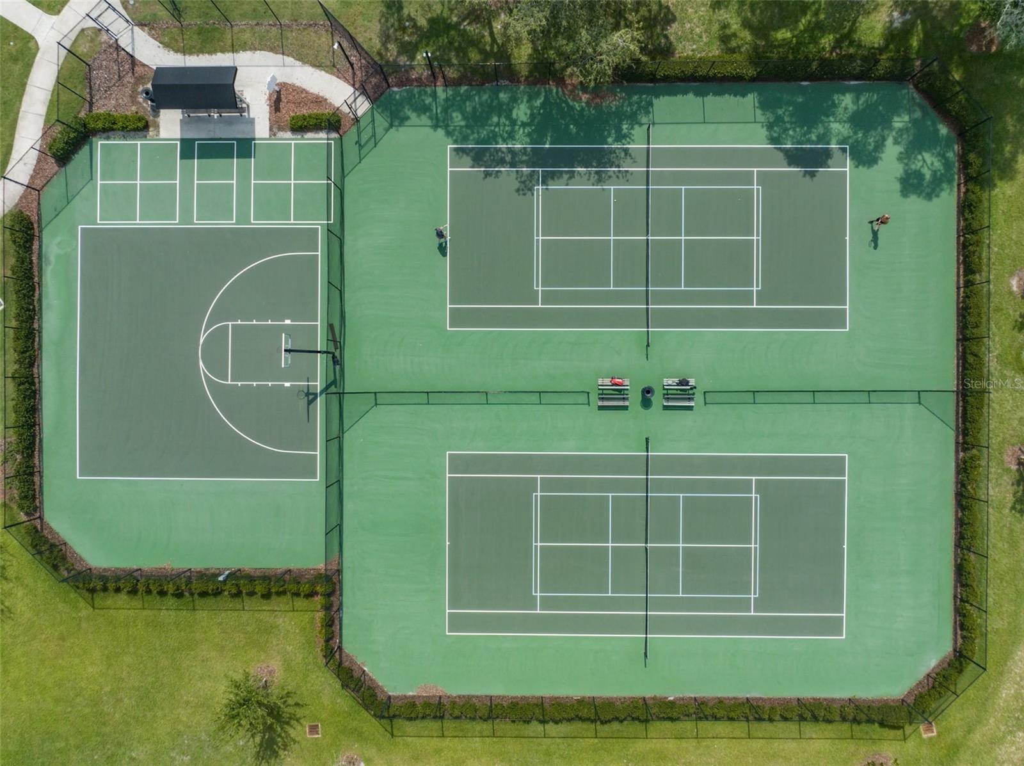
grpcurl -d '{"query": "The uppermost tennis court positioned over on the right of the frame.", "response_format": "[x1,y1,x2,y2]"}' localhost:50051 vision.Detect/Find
[447,146,849,331]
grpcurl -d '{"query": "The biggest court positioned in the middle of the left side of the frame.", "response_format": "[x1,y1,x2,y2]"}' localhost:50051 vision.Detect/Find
[77,226,320,480]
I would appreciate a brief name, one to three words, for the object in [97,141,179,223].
sports court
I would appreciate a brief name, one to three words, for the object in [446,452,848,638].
tennis court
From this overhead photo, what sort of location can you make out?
sports ground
